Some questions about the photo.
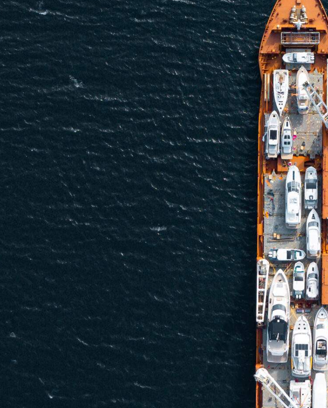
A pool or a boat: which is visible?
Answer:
boat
